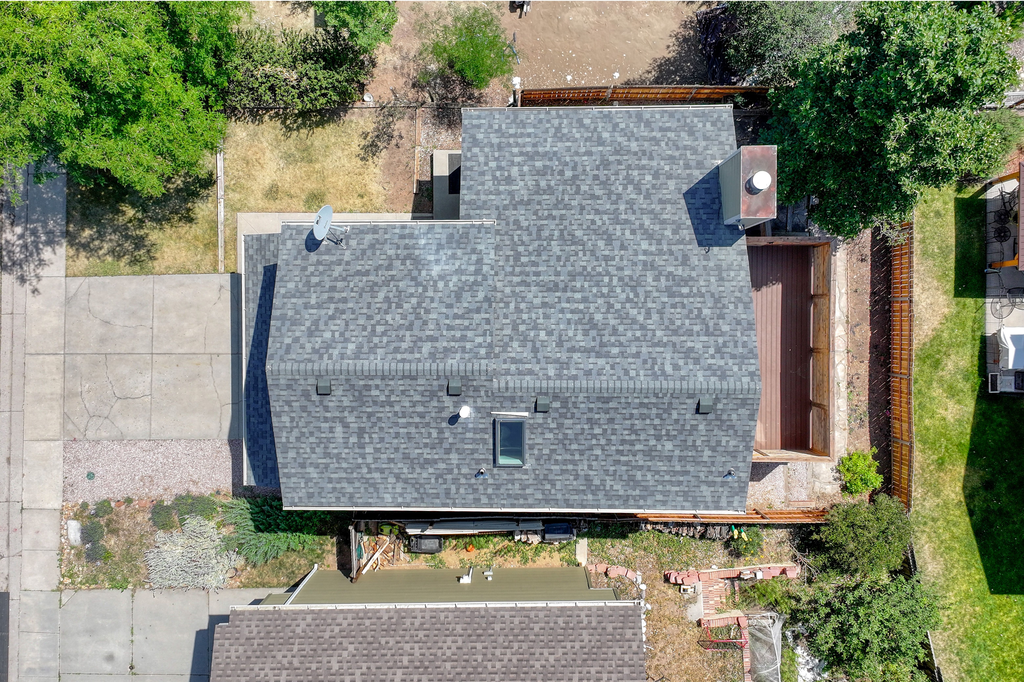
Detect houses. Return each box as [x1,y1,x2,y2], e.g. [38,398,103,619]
[202,564,646,682]
[241,103,777,515]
